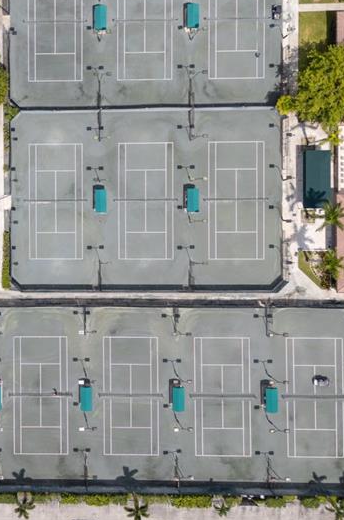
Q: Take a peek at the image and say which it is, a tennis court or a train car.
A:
tennis court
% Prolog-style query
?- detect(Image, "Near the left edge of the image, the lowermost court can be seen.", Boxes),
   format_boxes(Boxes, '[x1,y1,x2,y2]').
[0,309,86,486]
